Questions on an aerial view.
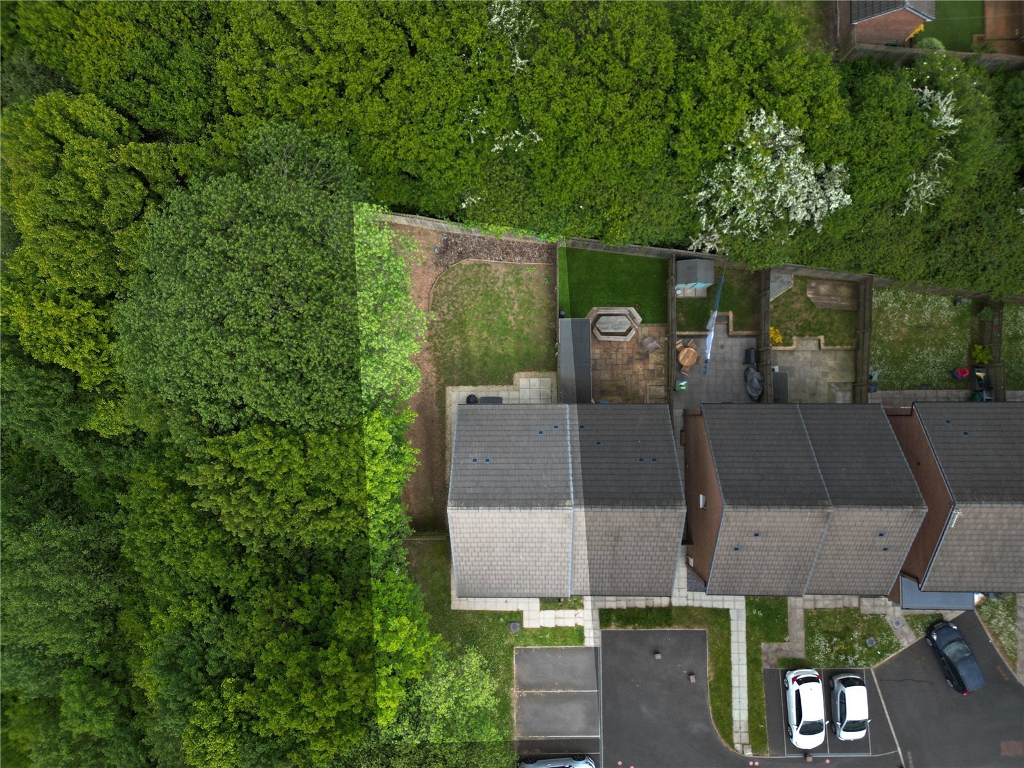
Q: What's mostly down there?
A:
trees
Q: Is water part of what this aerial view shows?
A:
No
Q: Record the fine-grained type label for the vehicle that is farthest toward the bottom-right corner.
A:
car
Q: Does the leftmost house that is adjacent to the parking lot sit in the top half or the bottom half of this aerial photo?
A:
bottom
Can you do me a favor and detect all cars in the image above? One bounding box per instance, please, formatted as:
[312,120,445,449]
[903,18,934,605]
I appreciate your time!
[828,672,874,742]
[924,618,990,701]
[516,755,595,768]
[783,667,831,750]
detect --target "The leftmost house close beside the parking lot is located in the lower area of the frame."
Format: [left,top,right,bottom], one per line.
[449,401,686,600]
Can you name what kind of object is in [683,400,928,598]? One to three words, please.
house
